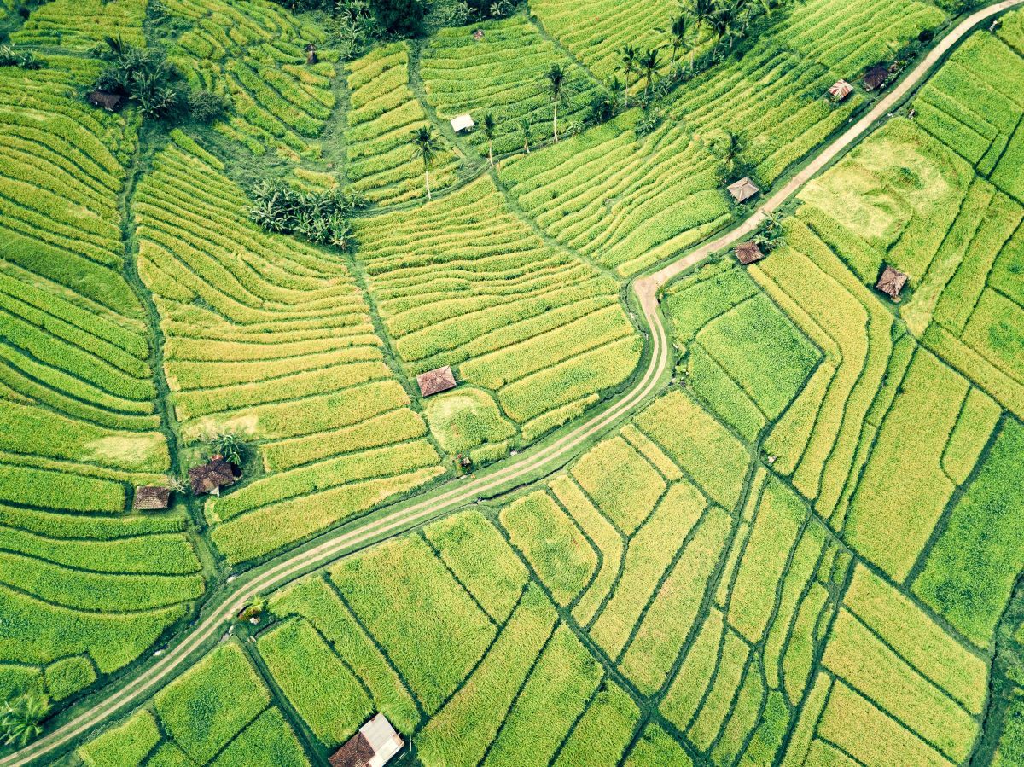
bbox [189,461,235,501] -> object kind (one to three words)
shed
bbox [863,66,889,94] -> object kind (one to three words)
shed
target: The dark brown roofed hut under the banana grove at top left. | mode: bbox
[89,88,123,115]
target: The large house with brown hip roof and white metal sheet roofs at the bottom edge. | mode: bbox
[327,713,405,767]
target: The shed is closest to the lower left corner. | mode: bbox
[133,487,170,512]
